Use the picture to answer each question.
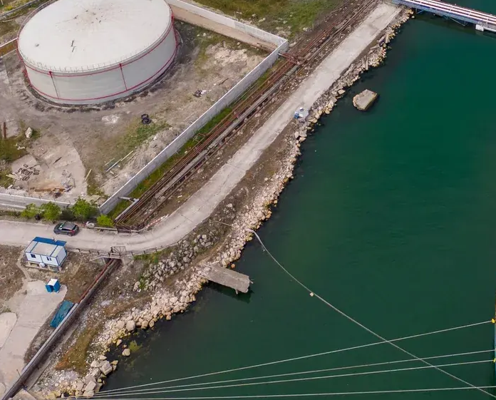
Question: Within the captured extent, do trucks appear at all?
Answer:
No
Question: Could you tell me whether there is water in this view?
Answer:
Yes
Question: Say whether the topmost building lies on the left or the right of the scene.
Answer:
left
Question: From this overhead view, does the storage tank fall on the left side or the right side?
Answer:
left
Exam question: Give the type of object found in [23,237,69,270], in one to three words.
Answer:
building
